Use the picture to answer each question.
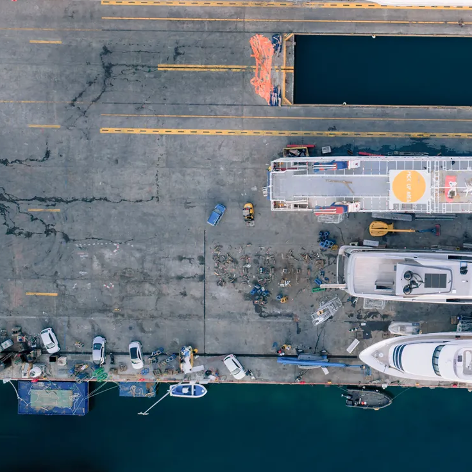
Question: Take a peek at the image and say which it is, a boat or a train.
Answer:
boat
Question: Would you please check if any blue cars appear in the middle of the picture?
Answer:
Yes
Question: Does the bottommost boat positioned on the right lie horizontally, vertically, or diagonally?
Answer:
horizontally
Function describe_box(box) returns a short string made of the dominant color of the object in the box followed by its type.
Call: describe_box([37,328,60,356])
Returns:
white car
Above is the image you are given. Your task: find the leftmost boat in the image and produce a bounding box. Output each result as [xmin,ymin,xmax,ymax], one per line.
[171,383,208,398]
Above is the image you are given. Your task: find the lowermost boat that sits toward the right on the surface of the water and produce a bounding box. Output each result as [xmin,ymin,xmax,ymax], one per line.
[341,388,392,411]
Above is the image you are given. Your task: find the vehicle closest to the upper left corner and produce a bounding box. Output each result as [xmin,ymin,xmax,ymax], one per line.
[203,204,225,228]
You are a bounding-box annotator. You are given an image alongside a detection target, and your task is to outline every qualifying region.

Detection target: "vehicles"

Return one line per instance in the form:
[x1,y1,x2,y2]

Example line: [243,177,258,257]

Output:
[238,202,257,228]
[89,337,106,366]
[203,204,225,228]
[125,342,143,371]
[221,356,243,382]
[37,328,60,356]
